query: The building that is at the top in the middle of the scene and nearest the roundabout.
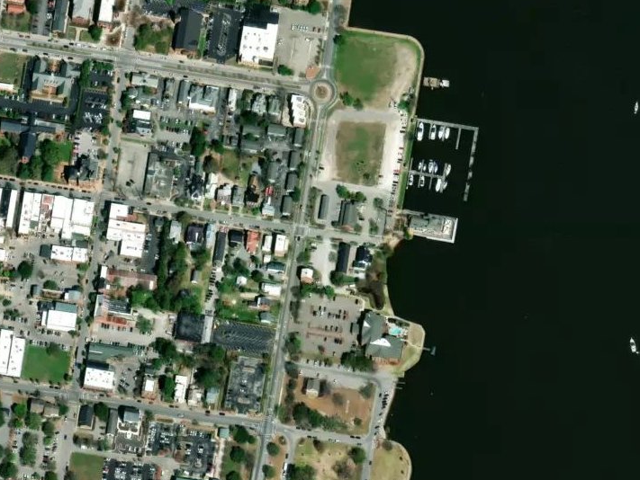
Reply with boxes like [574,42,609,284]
[289,93,307,128]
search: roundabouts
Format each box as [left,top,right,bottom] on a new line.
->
[307,77,335,104]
